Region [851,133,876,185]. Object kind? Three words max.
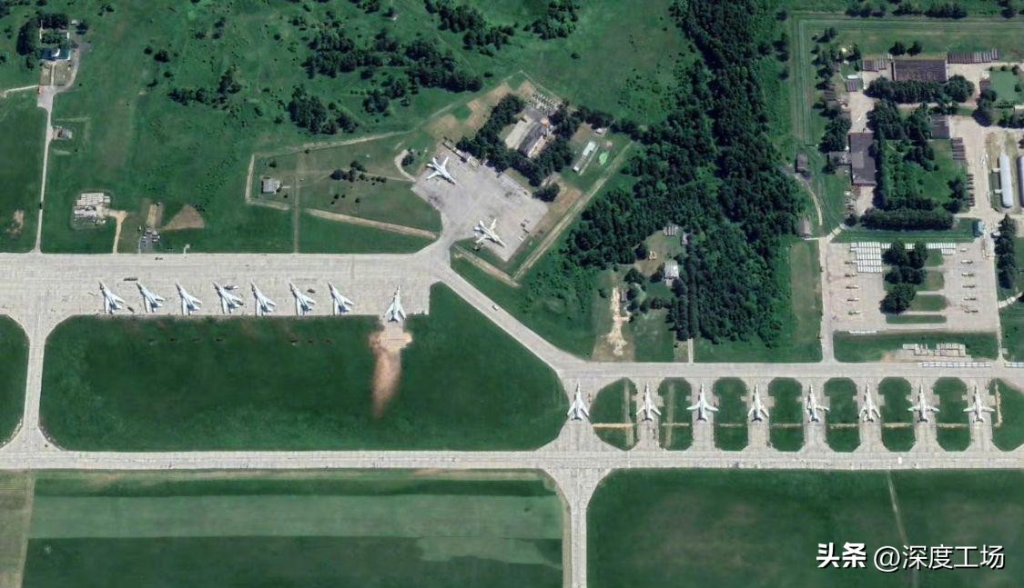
building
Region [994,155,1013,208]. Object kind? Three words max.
hangar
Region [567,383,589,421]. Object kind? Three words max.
airplane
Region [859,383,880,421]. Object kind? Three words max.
airplane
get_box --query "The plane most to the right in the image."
[963,386,994,423]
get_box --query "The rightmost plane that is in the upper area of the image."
[473,219,507,248]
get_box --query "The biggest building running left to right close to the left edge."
[40,47,70,59]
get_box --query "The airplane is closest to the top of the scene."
[426,156,458,185]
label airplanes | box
[908,385,939,422]
[859,383,880,421]
[136,281,163,316]
[328,282,354,317]
[426,156,458,185]
[963,386,994,423]
[99,280,125,315]
[251,279,277,314]
[567,383,589,421]
[383,284,407,323]
[213,281,240,316]
[289,280,315,315]
[803,384,828,422]
[688,382,718,420]
[473,219,507,248]
[176,282,202,316]
[748,384,769,421]
[637,383,661,421]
